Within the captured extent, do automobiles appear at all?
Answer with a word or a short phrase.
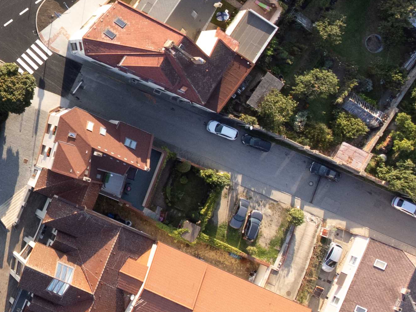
Yes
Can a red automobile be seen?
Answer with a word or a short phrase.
No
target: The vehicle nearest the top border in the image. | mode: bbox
[204,119,240,142]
